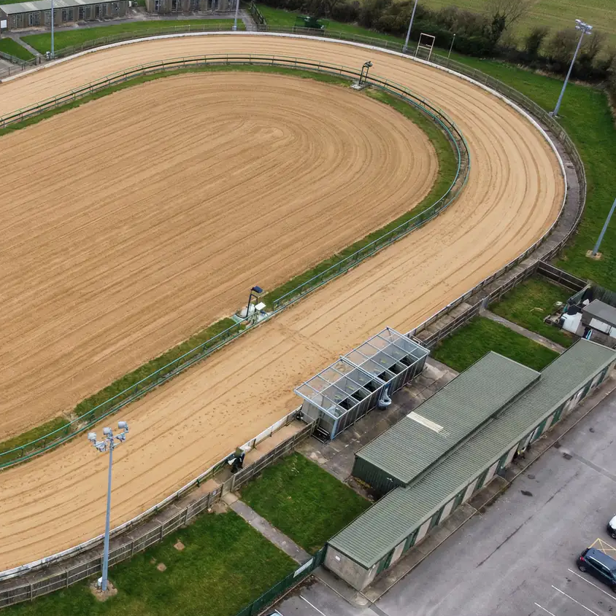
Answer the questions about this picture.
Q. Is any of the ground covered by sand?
Yes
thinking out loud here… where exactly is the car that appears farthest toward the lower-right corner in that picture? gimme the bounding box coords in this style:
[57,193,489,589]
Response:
[577,544,616,587]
